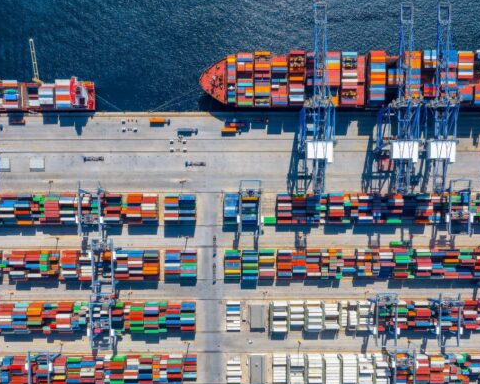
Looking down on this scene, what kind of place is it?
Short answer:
port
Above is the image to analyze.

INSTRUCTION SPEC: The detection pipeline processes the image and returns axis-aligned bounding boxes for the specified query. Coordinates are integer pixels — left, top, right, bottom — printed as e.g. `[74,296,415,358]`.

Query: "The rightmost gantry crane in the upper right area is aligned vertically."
[404,2,466,195]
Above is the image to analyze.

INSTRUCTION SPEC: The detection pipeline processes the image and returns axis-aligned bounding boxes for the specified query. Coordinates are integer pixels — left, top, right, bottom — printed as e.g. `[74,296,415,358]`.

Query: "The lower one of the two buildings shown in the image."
[250,354,266,384]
